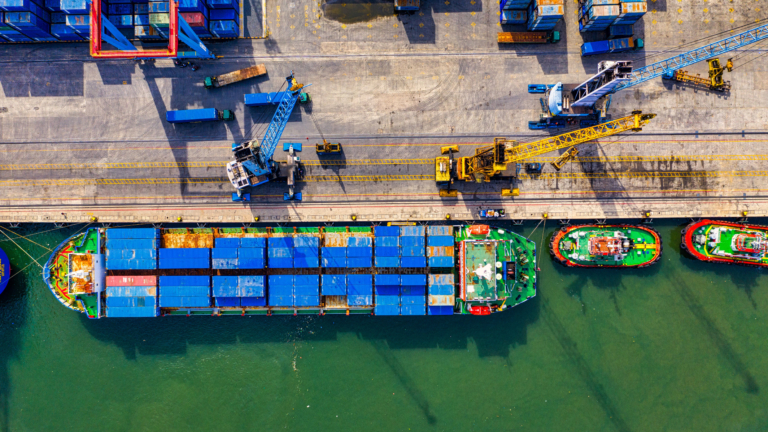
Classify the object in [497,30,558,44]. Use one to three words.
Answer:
vehicle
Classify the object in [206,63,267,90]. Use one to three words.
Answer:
truck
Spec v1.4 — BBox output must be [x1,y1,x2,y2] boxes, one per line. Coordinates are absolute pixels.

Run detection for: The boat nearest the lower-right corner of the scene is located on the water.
[678,218,768,271]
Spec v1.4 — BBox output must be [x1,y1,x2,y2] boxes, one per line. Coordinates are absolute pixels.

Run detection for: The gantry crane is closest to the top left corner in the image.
[92,0,227,60]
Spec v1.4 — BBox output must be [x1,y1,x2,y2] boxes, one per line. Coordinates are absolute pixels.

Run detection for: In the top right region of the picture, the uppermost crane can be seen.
[527,19,768,129]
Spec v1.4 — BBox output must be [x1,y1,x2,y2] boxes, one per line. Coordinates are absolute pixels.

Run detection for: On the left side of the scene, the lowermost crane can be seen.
[219,65,336,201]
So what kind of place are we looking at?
port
